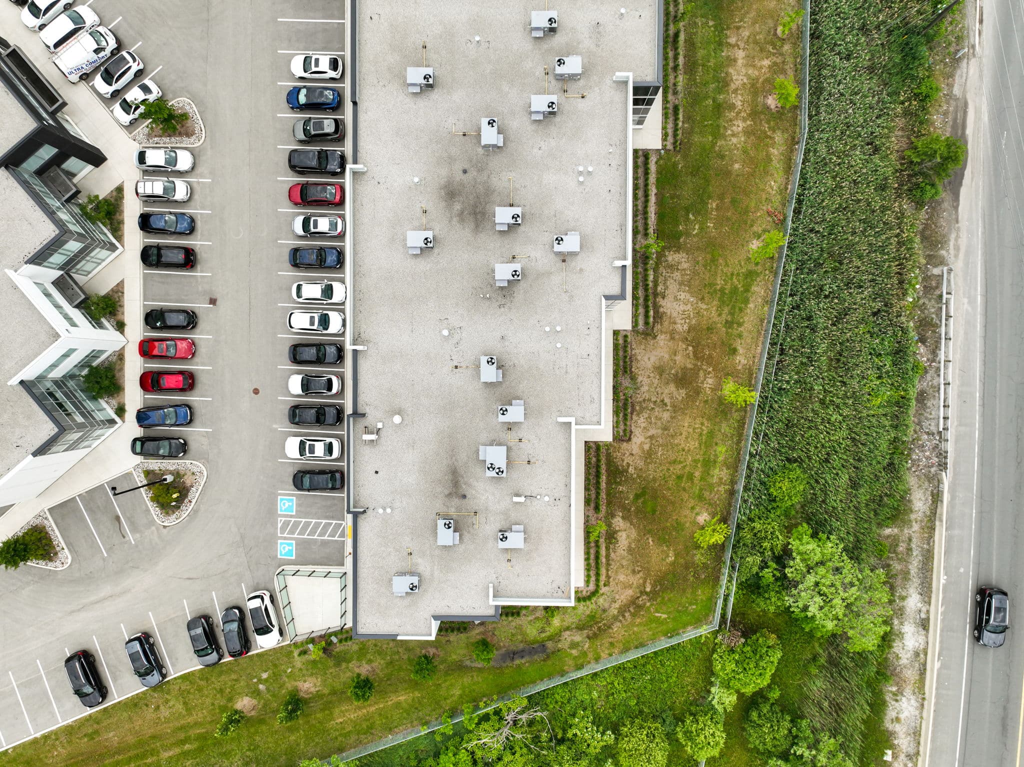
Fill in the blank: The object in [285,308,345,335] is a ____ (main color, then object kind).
white car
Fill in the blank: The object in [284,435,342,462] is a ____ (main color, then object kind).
white car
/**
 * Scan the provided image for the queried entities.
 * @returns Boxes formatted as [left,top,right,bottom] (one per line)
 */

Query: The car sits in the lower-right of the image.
[977,589,1012,646]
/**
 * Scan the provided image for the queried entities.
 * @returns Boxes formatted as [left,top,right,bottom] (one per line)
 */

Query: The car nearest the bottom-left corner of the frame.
[64,651,106,709]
